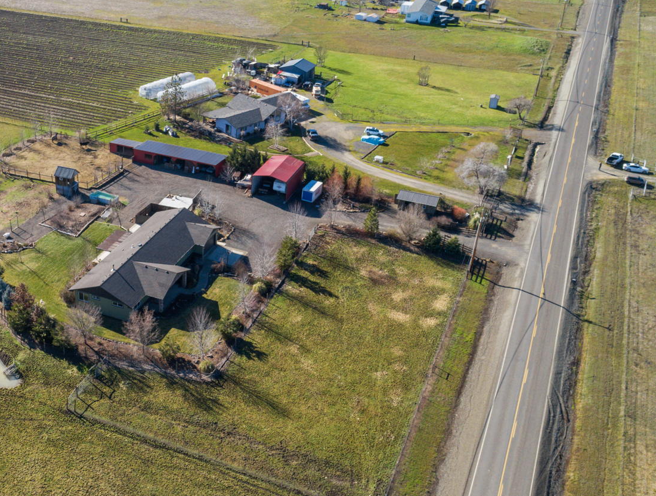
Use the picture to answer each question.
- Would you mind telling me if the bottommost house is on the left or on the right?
left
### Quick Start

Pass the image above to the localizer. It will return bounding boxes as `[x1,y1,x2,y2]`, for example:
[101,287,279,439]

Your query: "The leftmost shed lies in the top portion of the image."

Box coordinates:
[51,166,82,200]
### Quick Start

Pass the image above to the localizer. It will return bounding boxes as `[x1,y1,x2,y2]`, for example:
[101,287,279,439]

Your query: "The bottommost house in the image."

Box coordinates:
[68,206,222,321]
